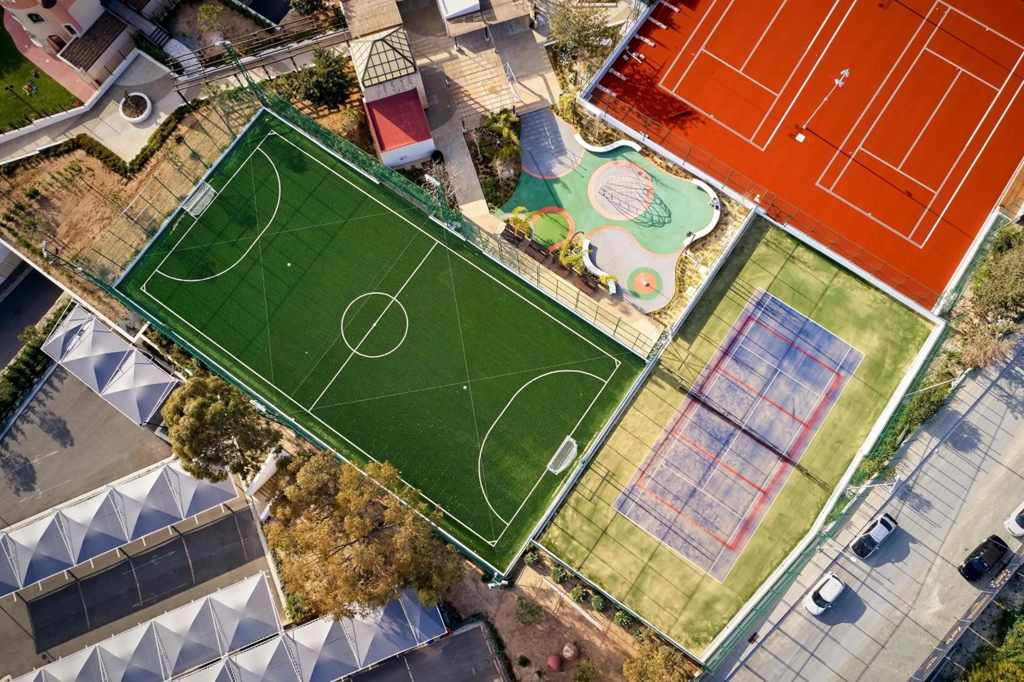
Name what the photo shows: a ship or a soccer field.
soccer field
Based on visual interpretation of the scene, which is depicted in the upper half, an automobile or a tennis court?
tennis court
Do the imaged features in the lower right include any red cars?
No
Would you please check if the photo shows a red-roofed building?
Yes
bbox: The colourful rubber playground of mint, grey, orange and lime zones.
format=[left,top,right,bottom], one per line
[496,108,715,313]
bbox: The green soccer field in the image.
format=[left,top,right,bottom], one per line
[119,111,648,576]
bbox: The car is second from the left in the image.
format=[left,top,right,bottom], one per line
[849,511,899,560]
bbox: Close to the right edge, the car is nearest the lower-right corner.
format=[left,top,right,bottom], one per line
[958,534,1011,583]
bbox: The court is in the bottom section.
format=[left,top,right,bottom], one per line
[537,221,934,656]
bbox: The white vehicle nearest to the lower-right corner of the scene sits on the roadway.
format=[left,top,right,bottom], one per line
[1003,499,1024,536]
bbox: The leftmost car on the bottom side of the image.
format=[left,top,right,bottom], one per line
[800,569,845,618]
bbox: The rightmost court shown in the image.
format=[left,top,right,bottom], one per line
[776,0,1024,313]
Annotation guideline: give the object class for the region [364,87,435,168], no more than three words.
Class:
building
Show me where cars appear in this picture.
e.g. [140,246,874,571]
[1003,499,1024,536]
[800,569,845,618]
[958,534,1011,583]
[849,511,899,560]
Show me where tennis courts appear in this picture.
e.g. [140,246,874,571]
[586,0,914,219]
[776,0,1024,313]
[537,221,934,656]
